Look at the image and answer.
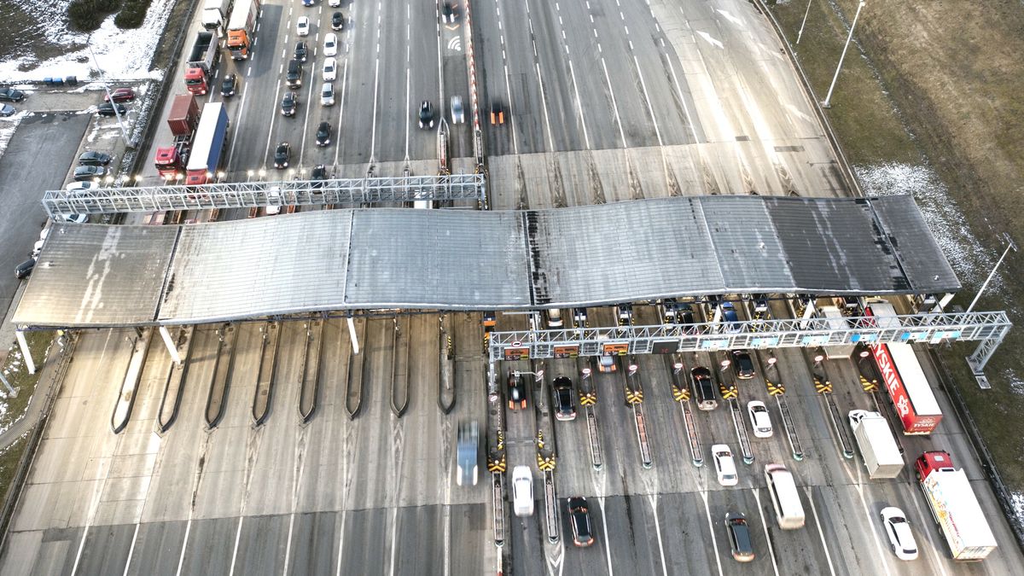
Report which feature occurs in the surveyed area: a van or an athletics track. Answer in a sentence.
Visible in the photo is a van.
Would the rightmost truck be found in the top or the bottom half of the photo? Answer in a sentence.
You can find the rightmost truck in the bottom half.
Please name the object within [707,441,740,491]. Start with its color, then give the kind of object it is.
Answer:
white car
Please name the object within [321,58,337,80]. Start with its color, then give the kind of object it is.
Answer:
white car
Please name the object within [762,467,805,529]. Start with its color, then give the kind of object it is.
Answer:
white van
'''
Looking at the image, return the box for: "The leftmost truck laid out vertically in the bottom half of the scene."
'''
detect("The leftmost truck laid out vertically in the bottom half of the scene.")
[452,423,482,484]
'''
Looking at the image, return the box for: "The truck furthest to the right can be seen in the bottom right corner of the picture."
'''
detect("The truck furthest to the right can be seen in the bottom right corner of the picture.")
[902,451,1001,571]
